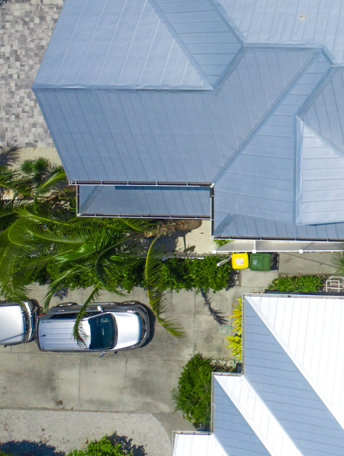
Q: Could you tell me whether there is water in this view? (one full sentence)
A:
No, the picture contains no water.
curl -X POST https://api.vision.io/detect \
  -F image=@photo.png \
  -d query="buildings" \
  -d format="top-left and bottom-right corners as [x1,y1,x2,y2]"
[32,0,344,246]
[169,288,344,456]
